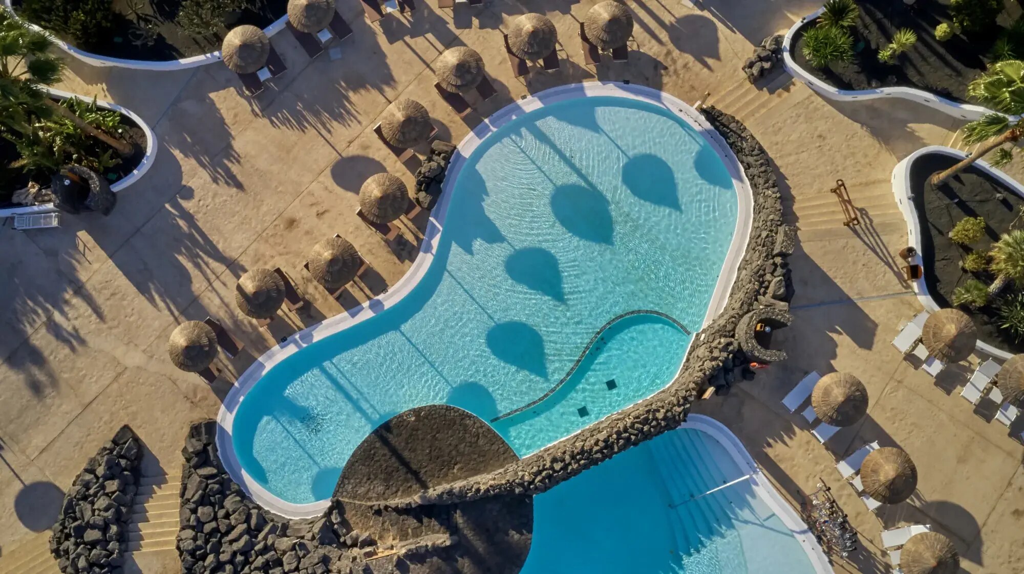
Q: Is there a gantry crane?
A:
No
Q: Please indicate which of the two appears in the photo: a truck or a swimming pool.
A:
swimming pool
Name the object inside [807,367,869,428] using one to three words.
umbrella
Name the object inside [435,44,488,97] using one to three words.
umbrella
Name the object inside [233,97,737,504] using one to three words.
swimming pool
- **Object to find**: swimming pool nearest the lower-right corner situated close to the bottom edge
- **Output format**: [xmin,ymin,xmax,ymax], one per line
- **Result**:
[520,425,816,574]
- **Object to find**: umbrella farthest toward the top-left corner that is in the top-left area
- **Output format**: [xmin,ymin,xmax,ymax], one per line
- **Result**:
[220,23,274,76]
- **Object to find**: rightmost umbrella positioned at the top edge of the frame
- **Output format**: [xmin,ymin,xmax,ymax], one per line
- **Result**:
[582,0,636,51]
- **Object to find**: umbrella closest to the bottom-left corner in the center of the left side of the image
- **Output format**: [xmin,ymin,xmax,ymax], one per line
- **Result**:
[166,319,220,372]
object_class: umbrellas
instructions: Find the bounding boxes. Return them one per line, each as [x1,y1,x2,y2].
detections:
[166,319,220,372]
[897,523,959,574]
[358,171,412,225]
[435,44,488,97]
[235,267,290,321]
[220,23,274,76]
[807,367,869,428]
[916,305,977,365]
[986,349,1024,410]
[582,0,636,51]
[310,235,364,289]
[854,446,916,506]
[379,98,434,152]
[286,0,340,36]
